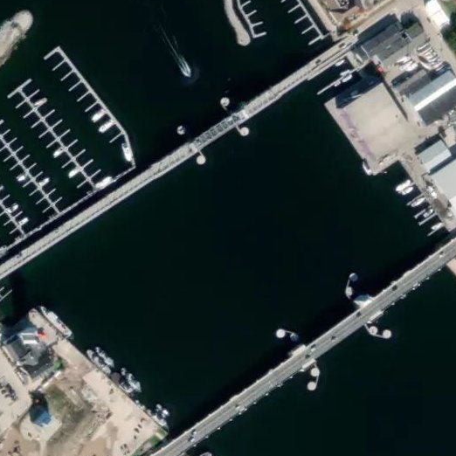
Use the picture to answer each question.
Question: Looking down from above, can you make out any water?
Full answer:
Yes, some water is visible.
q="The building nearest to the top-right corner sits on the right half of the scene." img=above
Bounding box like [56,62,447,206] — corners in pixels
[425,0,448,29]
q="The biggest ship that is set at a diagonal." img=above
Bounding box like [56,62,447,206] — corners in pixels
[40,308,73,340]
